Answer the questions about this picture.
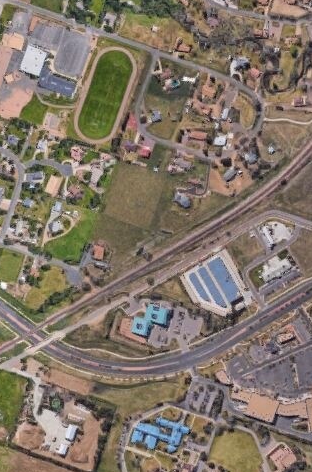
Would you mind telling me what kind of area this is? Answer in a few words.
residential area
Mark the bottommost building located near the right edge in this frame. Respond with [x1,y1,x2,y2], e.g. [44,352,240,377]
[269,444,296,470]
